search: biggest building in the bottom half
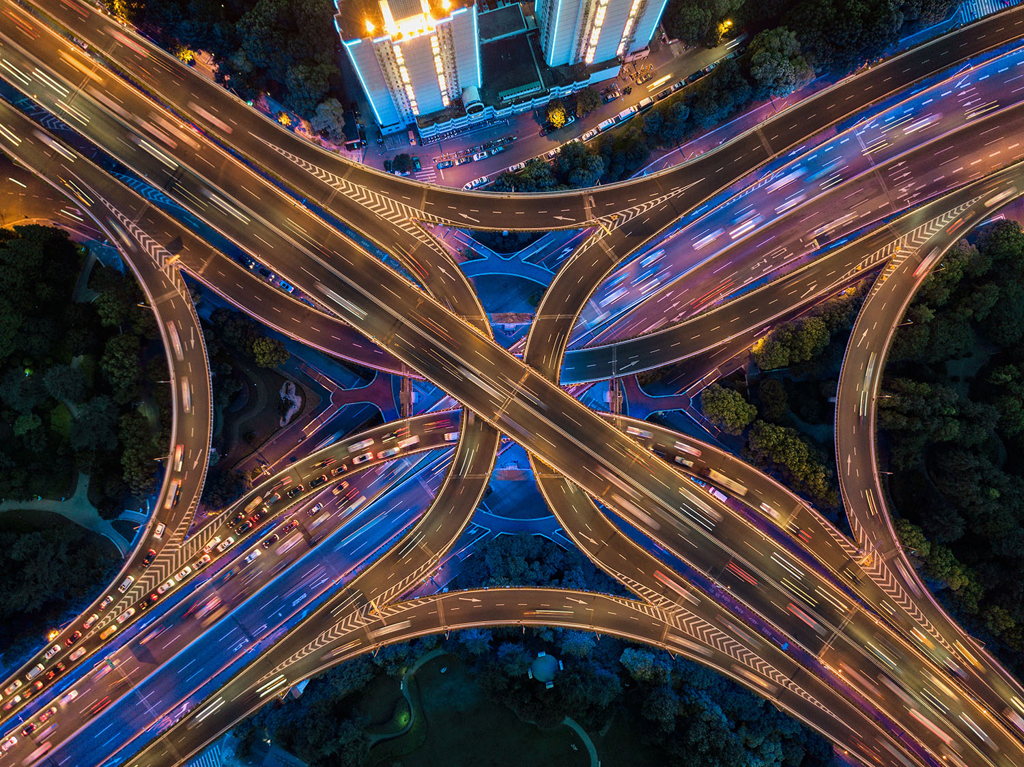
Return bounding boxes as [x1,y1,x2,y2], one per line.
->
[531,651,558,681]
